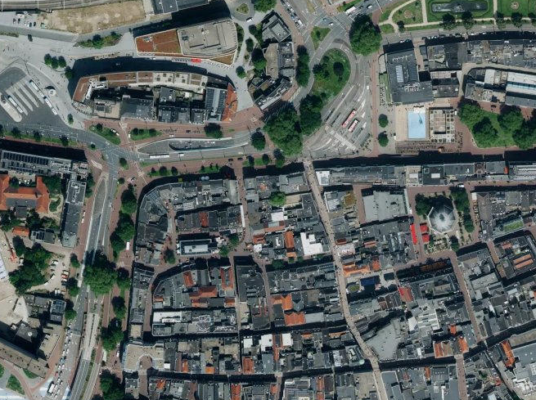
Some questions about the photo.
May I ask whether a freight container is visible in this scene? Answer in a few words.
No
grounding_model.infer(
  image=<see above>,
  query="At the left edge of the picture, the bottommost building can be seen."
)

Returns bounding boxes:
[23,353,49,377]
